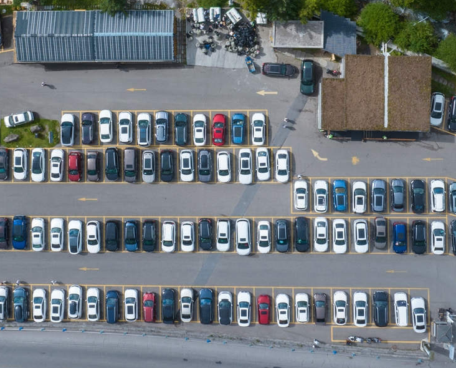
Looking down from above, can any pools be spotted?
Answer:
No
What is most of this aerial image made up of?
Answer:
paved ground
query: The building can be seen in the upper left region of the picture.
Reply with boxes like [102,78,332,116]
[13,10,176,63]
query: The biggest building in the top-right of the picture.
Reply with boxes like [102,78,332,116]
[320,43,433,141]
